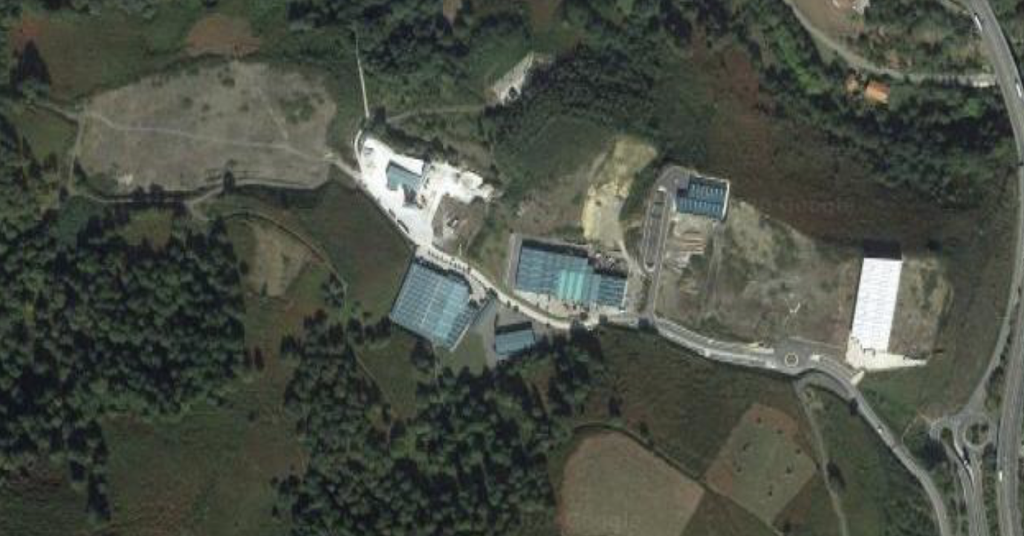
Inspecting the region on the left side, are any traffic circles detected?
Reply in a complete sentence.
No, no traffic circle appears on the left side.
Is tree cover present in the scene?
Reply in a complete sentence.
Yes, there is tree cover in the image.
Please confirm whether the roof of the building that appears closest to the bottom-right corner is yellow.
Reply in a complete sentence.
No, from above the roof of the building that appears closest to the bottom-right corner looks white.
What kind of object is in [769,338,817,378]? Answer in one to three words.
roundabout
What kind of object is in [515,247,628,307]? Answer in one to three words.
building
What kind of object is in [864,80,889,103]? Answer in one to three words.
house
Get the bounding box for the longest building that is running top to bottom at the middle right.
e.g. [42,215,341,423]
[851,258,903,359]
